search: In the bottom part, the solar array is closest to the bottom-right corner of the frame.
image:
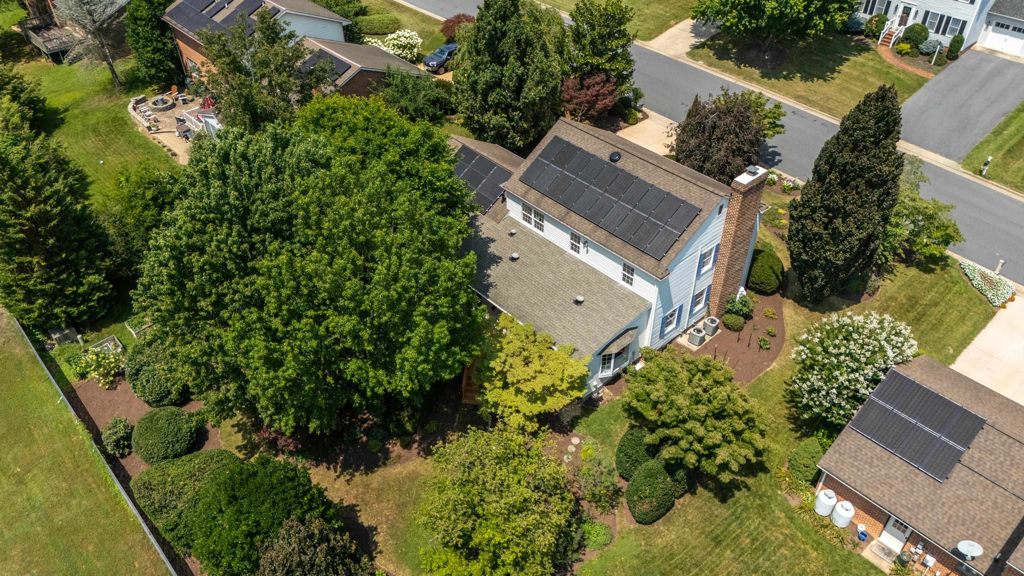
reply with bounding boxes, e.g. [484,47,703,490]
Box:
[851,371,987,480]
